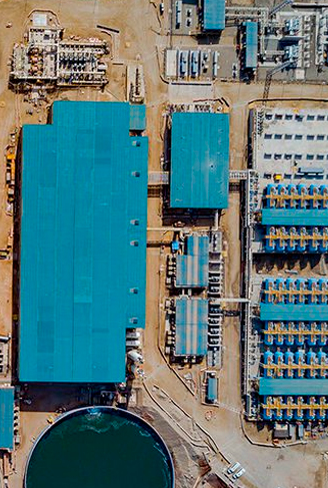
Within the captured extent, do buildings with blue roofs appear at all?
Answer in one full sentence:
Yes, you can see a building with a blue roof in this photo.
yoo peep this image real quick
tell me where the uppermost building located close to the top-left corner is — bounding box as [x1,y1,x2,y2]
[10,9,108,91]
